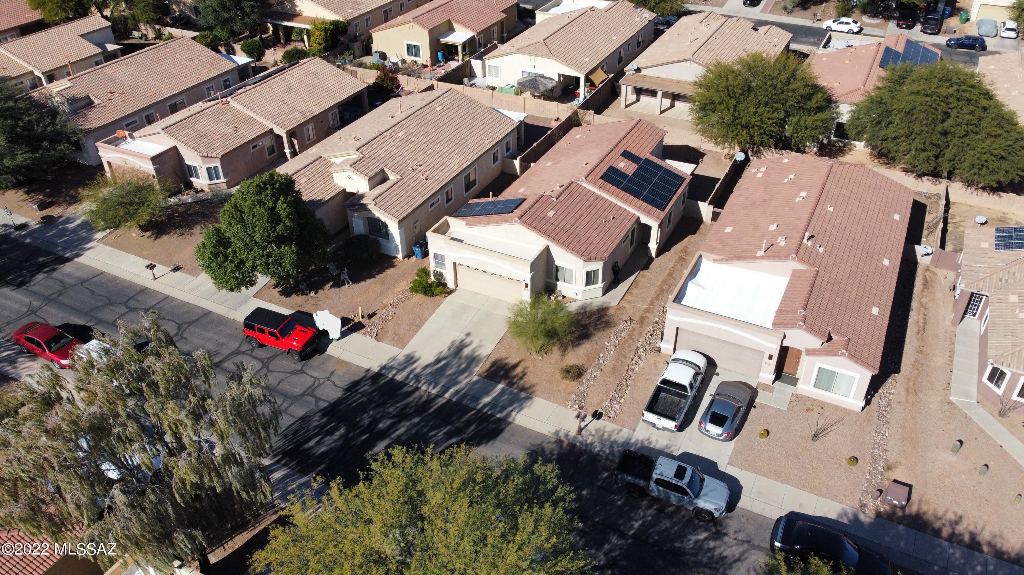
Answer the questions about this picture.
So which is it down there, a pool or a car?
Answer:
car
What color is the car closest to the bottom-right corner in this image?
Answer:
black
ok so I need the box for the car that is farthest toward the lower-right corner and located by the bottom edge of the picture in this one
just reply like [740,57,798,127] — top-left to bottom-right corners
[766,515,890,575]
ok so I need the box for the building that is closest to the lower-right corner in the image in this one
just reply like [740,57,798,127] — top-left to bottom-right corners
[945,226,1024,421]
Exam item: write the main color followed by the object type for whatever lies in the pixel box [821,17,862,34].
white car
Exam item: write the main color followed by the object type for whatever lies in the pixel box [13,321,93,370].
red car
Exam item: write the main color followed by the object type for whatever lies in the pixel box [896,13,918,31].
black car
